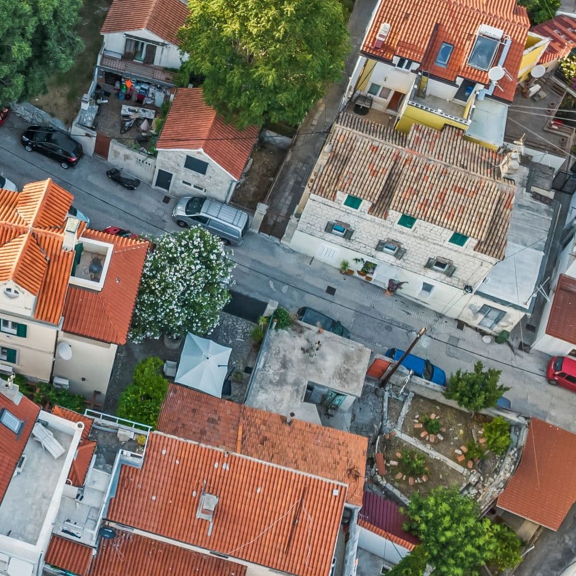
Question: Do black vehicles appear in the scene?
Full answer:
Yes, you can see a black vehicle in this photo.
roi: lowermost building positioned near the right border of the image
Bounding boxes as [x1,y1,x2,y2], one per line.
[491,418,576,550]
